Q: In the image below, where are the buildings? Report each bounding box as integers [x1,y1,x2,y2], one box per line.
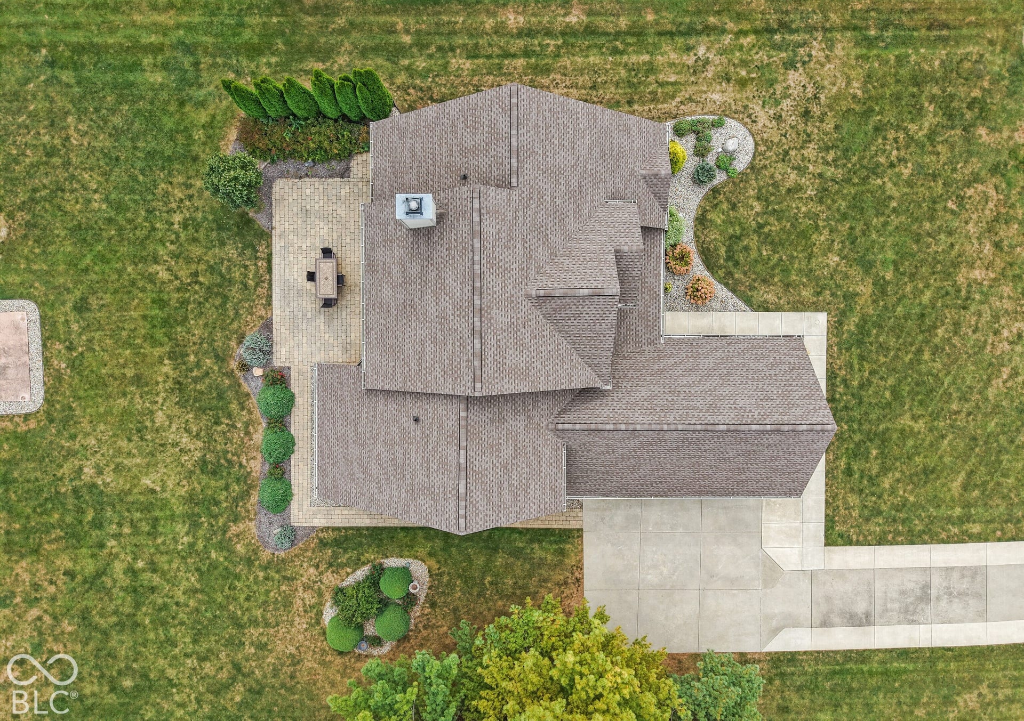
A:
[313,81,836,535]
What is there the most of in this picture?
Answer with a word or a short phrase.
grass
